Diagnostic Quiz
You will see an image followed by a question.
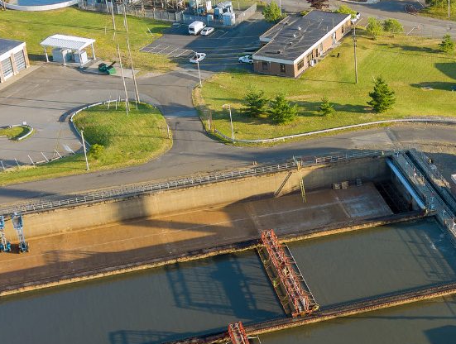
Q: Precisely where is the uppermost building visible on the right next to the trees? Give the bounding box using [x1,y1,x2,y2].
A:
[238,10,360,79]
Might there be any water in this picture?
Yes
